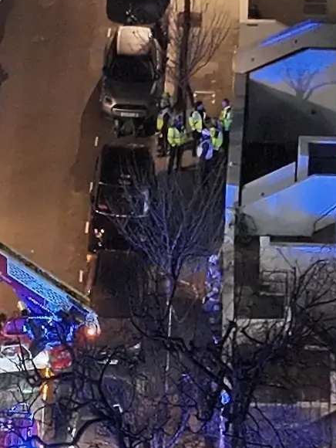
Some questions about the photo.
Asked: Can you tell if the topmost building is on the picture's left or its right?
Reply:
right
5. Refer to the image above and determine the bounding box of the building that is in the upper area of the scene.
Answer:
[294,135,336,172]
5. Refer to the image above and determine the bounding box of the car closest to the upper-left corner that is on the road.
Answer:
[101,21,167,113]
